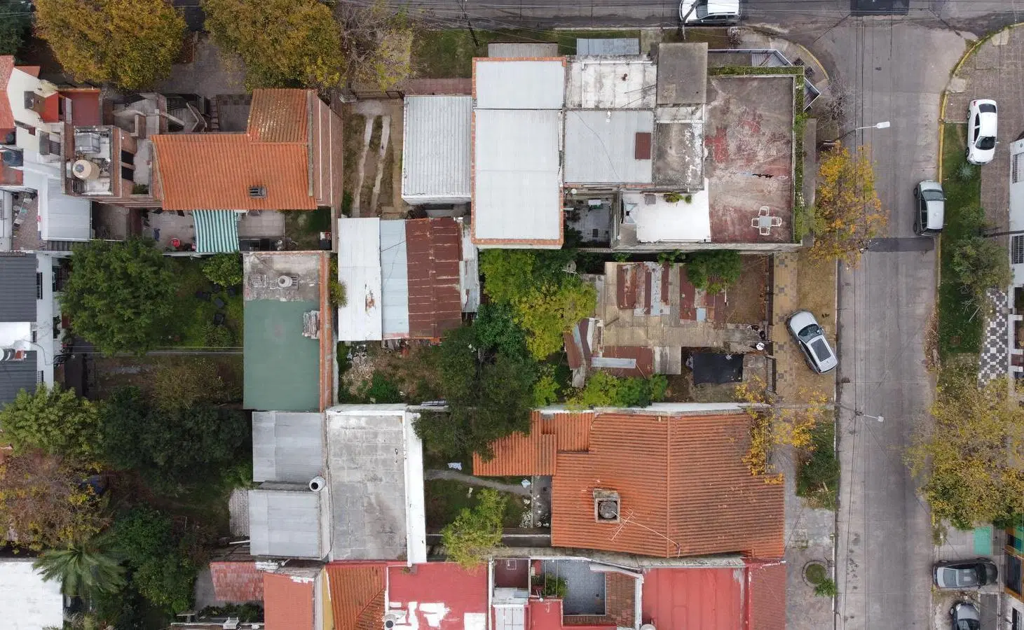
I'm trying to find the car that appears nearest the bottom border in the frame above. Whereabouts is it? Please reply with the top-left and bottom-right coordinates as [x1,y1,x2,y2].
[945,594,983,630]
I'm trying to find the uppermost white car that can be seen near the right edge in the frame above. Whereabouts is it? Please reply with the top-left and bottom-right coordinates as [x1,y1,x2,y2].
[963,99,1001,164]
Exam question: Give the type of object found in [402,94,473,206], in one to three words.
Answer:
building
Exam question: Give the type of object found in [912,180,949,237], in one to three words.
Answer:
car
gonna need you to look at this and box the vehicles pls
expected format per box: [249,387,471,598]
[945,594,983,630]
[678,0,742,26]
[931,556,997,590]
[912,180,949,237]
[963,99,1001,164]
[786,310,840,375]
